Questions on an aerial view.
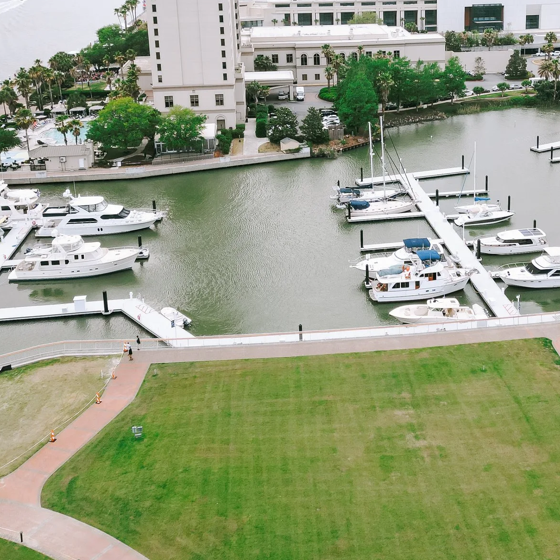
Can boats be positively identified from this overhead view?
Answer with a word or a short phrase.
Yes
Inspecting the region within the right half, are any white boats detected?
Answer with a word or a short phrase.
Yes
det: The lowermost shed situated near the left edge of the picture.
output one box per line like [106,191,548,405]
[26,141,104,172]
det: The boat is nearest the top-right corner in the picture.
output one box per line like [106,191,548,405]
[457,146,504,212]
